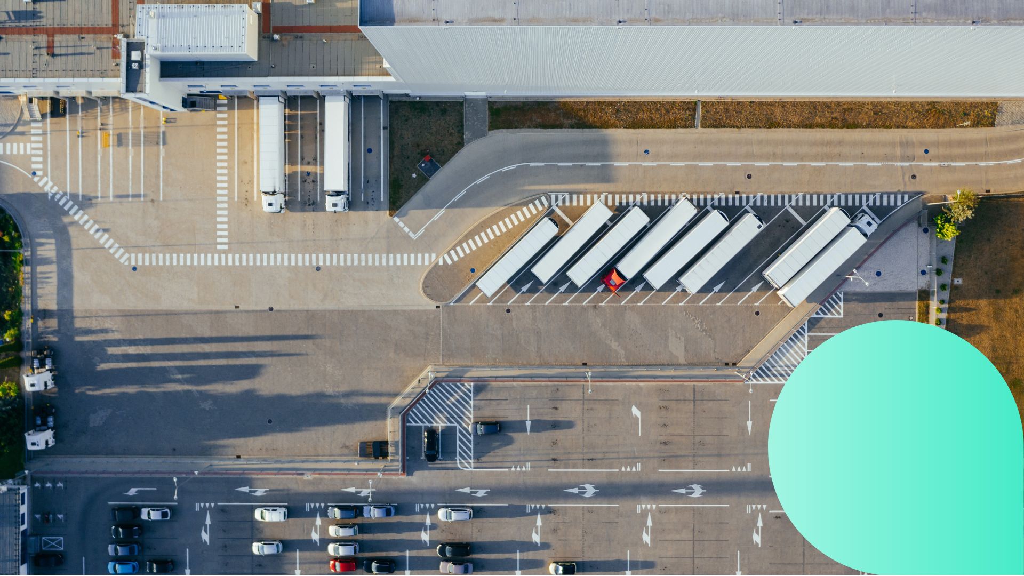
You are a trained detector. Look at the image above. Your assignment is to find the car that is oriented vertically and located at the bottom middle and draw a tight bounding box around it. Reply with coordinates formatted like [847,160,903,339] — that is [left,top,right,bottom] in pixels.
[423,428,439,462]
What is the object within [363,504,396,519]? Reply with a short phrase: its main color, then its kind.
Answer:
blue car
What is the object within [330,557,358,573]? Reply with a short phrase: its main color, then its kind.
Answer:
red car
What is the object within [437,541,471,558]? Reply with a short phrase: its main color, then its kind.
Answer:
black car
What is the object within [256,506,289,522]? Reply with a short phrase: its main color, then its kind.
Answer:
white car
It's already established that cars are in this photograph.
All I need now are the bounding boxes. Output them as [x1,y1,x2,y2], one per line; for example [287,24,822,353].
[148,557,176,574]
[364,557,396,573]
[142,505,173,521]
[330,557,358,573]
[328,540,360,556]
[440,559,474,575]
[253,539,285,555]
[112,523,144,539]
[423,428,439,462]
[437,541,471,558]
[438,506,473,522]
[363,504,396,519]
[109,541,143,557]
[109,558,142,575]
[35,551,67,567]
[329,522,359,538]
[471,420,501,435]
[111,505,142,521]
[328,504,360,520]
[549,560,576,576]
[256,506,289,522]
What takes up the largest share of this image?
paved ground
